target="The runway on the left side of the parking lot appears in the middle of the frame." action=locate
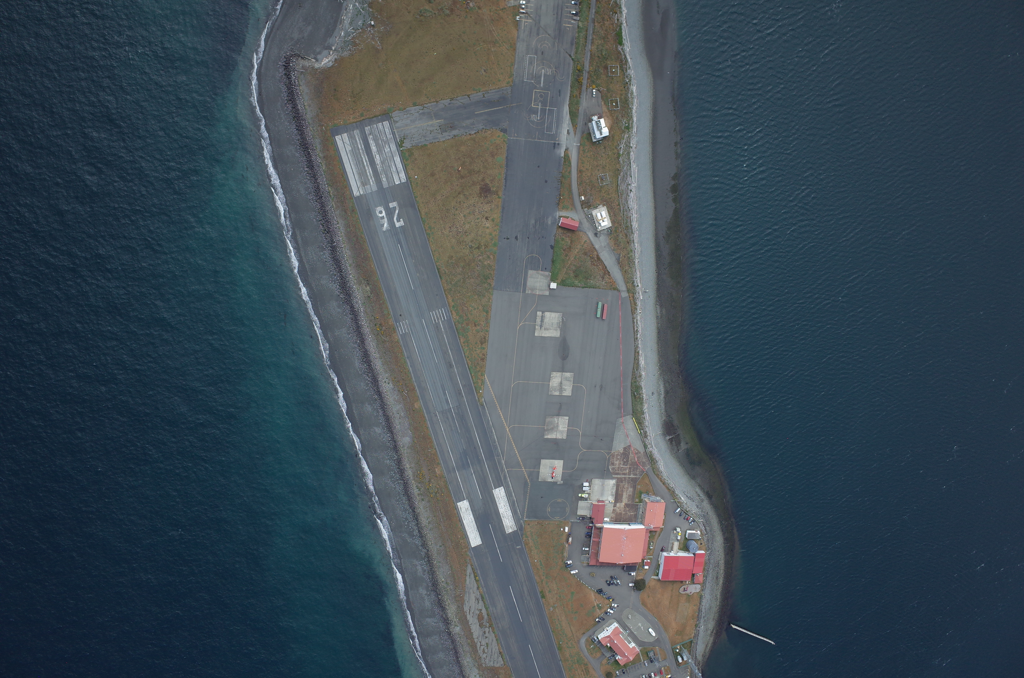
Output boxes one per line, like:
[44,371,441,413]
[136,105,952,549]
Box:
[330,114,565,678]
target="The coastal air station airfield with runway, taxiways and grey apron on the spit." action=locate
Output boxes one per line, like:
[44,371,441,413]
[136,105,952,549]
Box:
[330,0,651,678]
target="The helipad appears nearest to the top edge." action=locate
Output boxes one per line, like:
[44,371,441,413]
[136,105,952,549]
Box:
[526,270,551,295]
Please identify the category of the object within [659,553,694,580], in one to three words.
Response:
building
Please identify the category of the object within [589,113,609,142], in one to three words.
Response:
house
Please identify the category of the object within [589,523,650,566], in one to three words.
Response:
hangar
